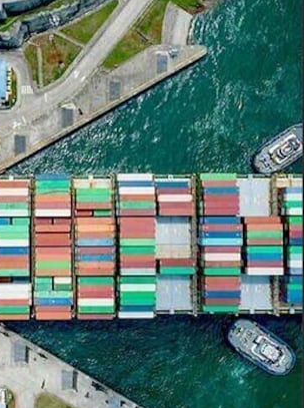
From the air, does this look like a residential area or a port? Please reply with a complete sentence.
The picture captures a port.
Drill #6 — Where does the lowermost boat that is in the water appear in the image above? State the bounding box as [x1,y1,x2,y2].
[222,319,297,372]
